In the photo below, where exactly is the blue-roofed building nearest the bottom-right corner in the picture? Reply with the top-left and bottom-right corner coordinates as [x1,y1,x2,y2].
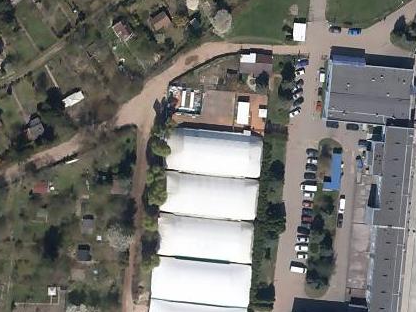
[321,153,341,191]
